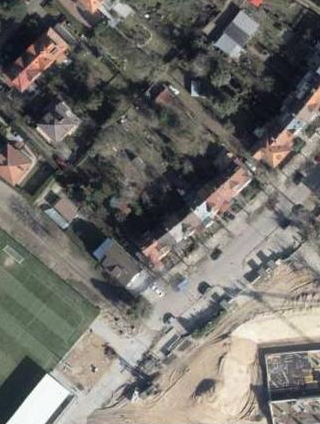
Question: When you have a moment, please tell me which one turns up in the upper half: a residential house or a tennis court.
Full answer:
The feature located in the upper half is a residential house.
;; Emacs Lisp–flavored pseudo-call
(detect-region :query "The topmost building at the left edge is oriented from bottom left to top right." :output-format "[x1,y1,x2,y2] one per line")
[6,30,71,92]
